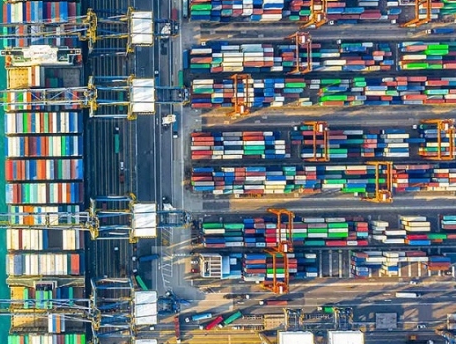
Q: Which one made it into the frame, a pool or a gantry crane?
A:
gantry crane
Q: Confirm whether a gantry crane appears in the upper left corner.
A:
Yes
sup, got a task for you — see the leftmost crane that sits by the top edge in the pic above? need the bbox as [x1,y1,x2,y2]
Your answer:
[0,6,183,68]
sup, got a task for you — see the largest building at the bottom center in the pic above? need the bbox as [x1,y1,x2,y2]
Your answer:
[202,254,222,278]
